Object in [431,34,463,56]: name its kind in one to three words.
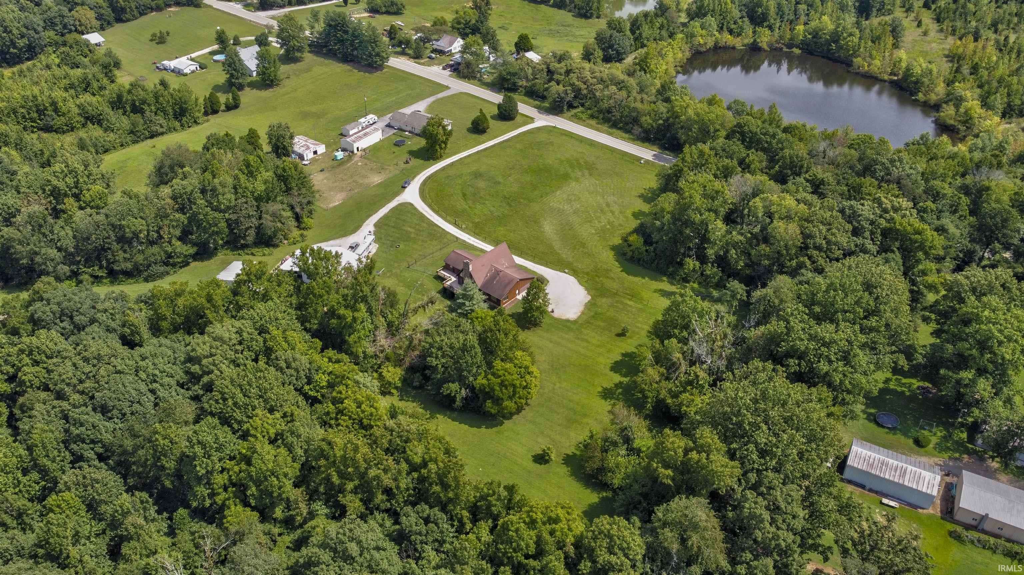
house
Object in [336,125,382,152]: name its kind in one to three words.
shed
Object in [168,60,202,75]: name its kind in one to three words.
building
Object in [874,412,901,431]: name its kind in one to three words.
trampoline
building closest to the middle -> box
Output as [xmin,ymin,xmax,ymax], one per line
[436,241,537,307]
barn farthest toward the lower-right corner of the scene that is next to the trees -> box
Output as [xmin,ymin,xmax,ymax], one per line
[954,468,1024,543]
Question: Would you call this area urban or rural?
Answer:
rural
